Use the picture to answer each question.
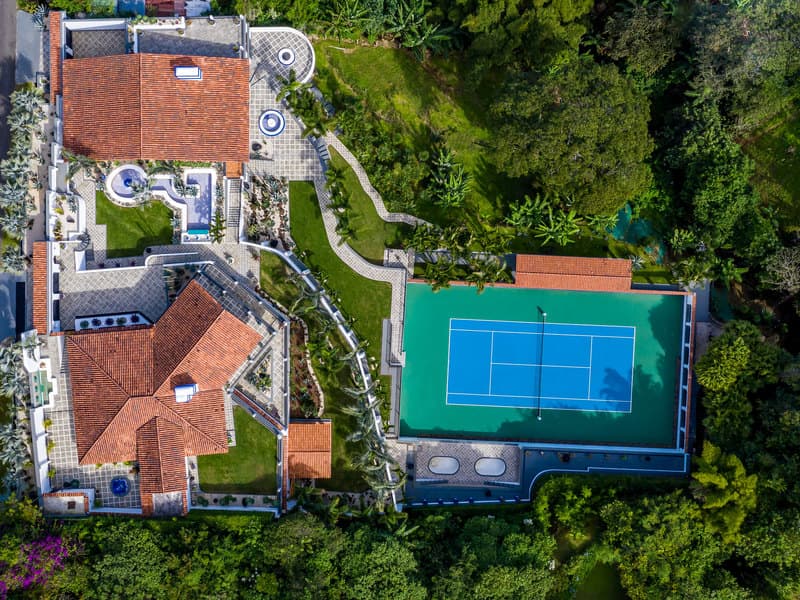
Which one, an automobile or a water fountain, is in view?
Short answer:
water fountain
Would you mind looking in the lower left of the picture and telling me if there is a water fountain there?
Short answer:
Yes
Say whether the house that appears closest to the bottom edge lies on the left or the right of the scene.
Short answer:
left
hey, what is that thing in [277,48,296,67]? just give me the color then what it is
white fountain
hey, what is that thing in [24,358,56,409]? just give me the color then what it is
white fountain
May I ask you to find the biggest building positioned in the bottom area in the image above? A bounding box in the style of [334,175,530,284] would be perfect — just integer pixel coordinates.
[64,278,263,517]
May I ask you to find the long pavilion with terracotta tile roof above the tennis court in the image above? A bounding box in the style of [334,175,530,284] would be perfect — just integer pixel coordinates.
[513,254,632,292]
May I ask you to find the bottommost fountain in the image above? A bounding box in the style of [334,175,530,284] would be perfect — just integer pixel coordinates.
[111,475,132,495]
